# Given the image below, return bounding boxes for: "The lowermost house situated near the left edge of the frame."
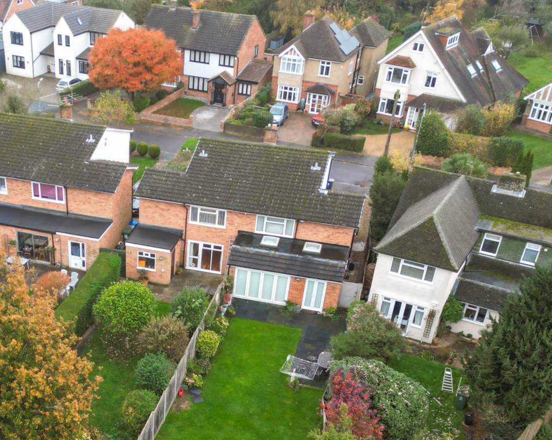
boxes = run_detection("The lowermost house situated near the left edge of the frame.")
[0,96,135,269]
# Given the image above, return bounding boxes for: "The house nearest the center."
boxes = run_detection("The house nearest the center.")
[125,124,366,309]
